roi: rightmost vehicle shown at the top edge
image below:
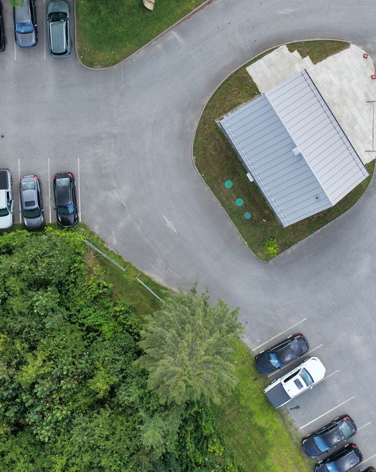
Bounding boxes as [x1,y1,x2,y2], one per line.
[45,0,72,58]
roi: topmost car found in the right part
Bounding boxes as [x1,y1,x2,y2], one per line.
[256,333,308,373]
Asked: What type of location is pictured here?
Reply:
parking lot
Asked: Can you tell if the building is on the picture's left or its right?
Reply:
right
